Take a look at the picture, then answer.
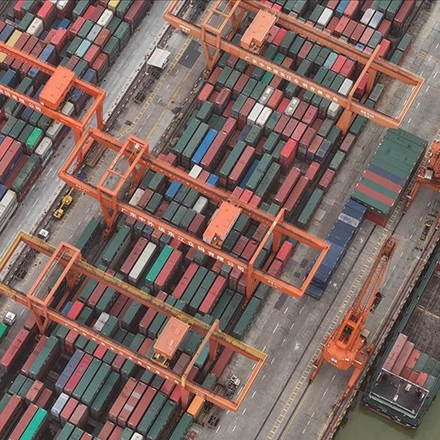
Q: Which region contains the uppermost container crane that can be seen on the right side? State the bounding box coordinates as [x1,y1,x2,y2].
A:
[162,0,425,140]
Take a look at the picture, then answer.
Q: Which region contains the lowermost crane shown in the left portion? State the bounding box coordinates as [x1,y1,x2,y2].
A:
[0,230,269,416]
